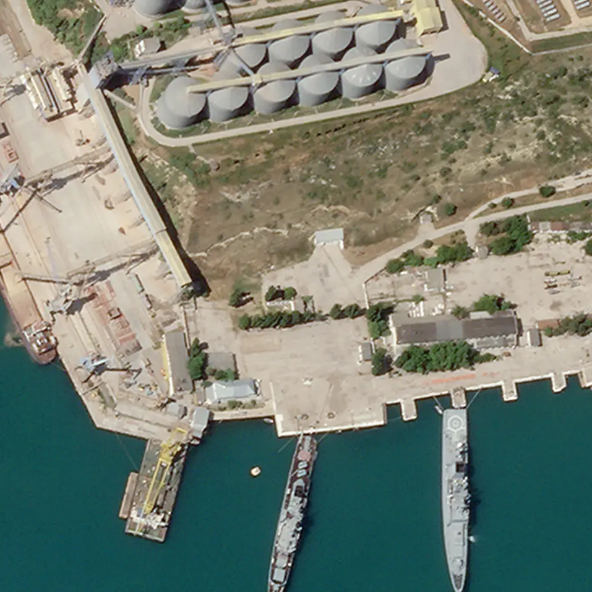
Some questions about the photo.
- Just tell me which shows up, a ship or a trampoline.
ship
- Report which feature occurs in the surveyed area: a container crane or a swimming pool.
container crane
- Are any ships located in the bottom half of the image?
Yes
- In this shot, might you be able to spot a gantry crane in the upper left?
Yes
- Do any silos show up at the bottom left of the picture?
No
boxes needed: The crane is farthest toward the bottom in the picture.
[74,353,139,381]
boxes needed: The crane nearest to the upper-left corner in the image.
[0,58,78,106]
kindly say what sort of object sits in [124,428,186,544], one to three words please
ship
